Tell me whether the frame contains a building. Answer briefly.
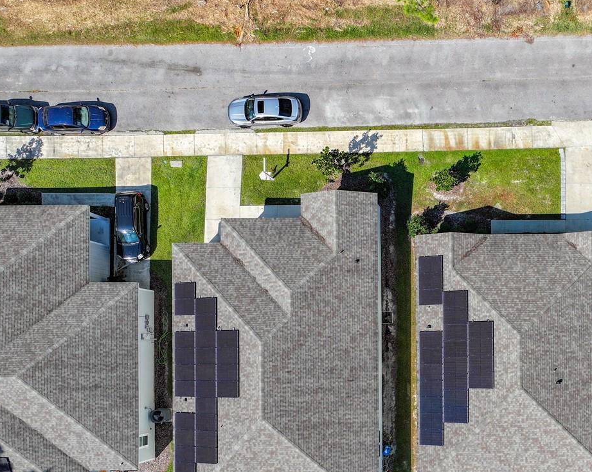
Yes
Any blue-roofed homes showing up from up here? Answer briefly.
No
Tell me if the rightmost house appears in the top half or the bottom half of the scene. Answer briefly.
bottom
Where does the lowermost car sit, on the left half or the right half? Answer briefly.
left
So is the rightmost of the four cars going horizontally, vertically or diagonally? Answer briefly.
horizontally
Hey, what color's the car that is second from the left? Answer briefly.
blue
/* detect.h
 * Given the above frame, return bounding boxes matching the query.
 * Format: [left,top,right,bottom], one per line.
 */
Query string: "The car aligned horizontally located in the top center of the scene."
[228,93,305,130]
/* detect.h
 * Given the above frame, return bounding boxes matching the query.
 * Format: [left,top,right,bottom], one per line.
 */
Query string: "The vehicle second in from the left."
[35,102,113,137]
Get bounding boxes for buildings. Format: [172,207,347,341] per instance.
[171,190,383,472]
[0,205,163,472]
[414,231,592,472]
